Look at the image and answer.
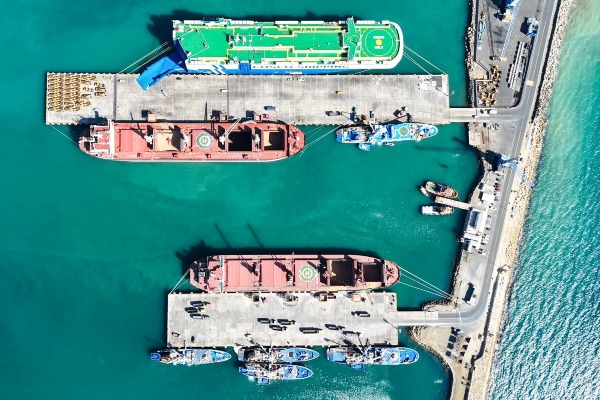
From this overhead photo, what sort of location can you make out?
port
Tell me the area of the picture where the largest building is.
right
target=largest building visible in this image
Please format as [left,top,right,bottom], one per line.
[460,207,488,237]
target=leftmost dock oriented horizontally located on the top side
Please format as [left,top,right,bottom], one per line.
[46,72,449,125]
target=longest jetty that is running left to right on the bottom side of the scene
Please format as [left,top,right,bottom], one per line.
[168,292,397,348]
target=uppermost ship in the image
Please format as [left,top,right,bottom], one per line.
[136,16,404,91]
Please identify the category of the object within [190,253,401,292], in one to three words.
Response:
ship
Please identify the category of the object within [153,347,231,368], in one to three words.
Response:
boat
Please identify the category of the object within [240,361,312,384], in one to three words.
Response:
boat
